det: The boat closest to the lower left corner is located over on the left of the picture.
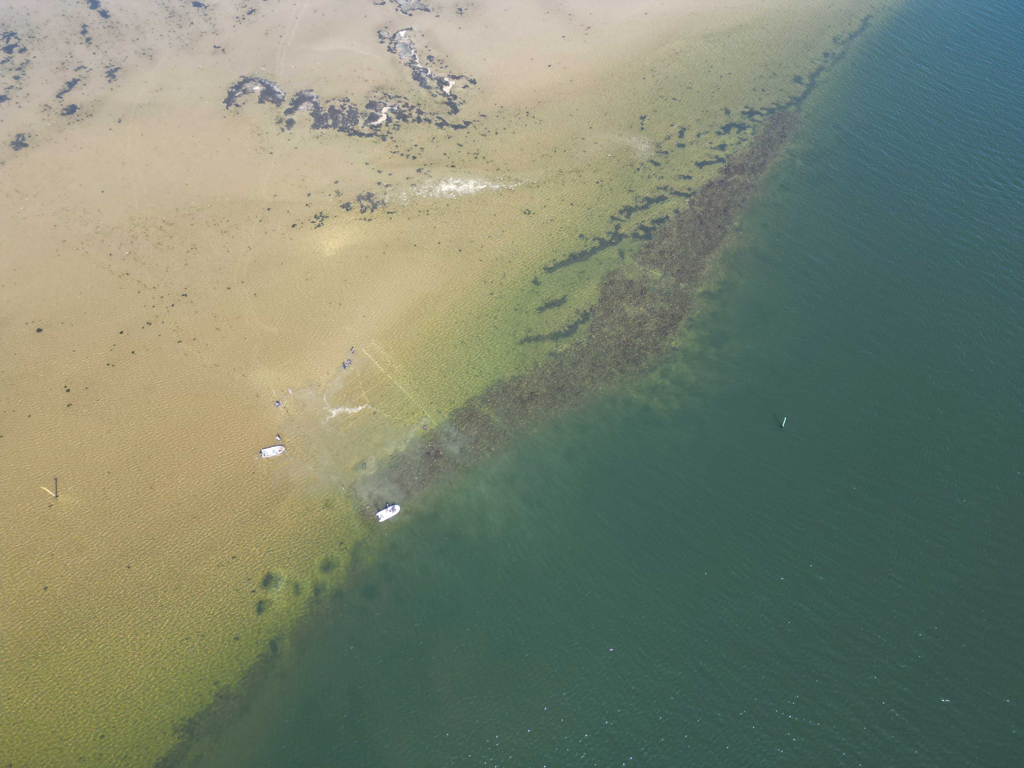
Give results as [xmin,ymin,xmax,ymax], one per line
[259,446,285,458]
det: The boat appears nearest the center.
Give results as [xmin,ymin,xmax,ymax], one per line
[376,506,401,521]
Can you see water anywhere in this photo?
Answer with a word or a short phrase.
Yes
